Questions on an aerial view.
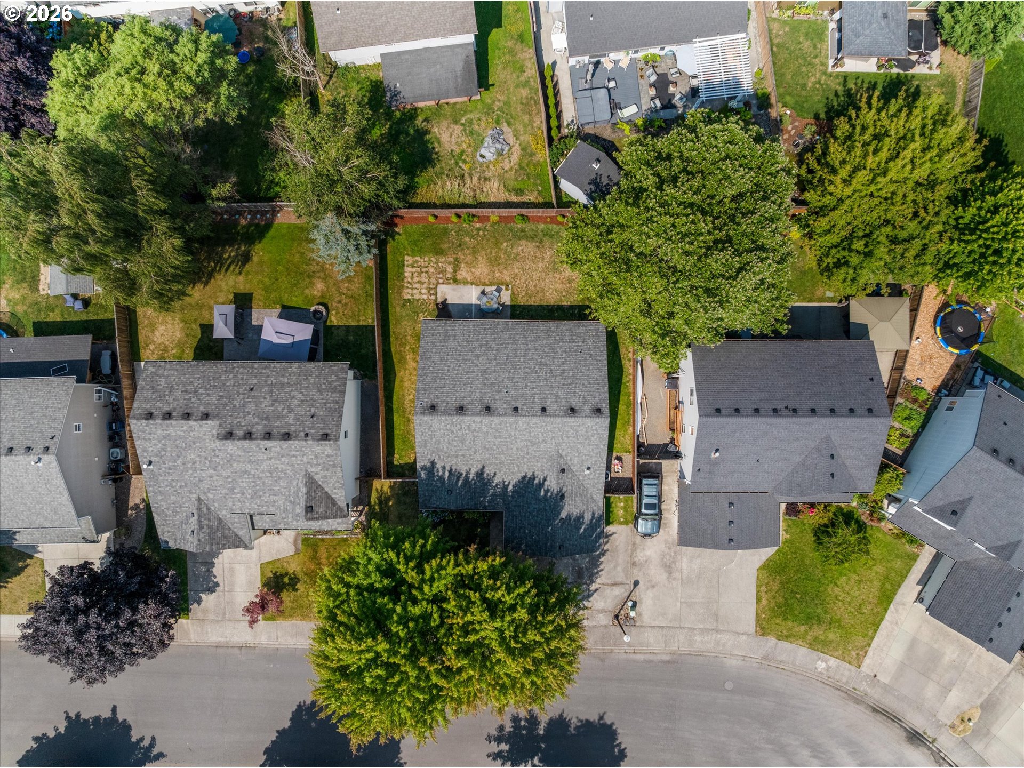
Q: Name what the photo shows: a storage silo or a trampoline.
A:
trampoline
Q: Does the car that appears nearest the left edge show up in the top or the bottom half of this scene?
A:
bottom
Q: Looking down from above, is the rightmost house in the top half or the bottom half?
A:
bottom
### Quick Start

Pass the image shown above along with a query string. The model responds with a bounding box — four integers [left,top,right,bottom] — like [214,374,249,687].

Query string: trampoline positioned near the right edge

[931,300,1003,355]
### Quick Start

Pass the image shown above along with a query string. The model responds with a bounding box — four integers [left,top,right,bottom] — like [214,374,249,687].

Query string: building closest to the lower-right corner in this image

[868,379,1024,658]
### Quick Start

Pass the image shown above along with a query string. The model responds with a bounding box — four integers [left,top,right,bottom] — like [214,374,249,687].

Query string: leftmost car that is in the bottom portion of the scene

[632,474,665,539]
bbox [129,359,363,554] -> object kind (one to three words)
house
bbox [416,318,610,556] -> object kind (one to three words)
house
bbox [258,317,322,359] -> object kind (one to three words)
gazebo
